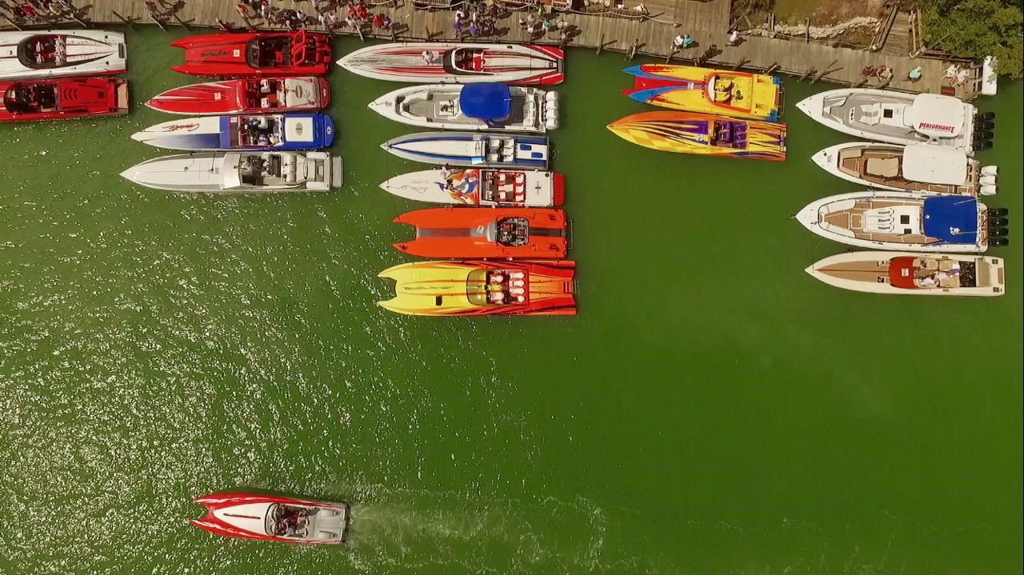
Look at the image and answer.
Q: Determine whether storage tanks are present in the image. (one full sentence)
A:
No, there isn't any storage tank down there.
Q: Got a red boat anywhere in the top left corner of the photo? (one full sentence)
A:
Yes, in the top left corner of the photo there is a red boat.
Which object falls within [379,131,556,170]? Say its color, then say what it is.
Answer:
white boat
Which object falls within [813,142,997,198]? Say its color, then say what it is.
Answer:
white boat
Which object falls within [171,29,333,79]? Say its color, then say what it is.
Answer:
red boat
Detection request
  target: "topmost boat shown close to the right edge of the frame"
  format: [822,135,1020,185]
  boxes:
[795,89,995,157]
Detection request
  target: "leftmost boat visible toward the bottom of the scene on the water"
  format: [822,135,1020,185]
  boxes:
[192,494,353,544]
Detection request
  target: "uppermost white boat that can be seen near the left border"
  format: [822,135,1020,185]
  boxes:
[0,31,135,78]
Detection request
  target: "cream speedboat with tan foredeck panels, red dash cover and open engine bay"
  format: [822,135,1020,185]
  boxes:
[805,251,1005,296]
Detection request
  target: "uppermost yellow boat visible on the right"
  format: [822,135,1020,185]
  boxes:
[619,65,786,122]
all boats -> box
[795,89,995,157]
[0,78,135,121]
[619,65,786,122]
[606,111,787,162]
[367,80,560,133]
[805,251,1005,296]
[143,78,331,117]
[813,142,997,198]
[117,152,347,192]
[0,31,135,78]
[792,191,1009,253]
[334,43,564,87]
[192,494,353,544]
[129,115,335,153]
[171,29,333,79]
[377,169,564,208]
[393,209,573,259]
[379,131,556,170]
[378,261,577,317]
